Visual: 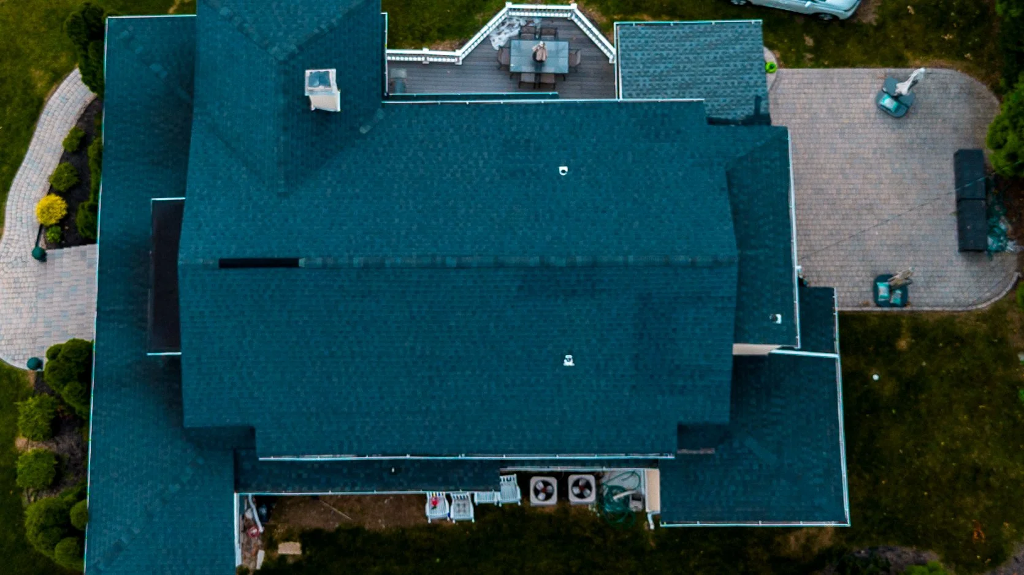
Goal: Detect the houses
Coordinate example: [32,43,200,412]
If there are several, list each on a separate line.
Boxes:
[83,0,851,575]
